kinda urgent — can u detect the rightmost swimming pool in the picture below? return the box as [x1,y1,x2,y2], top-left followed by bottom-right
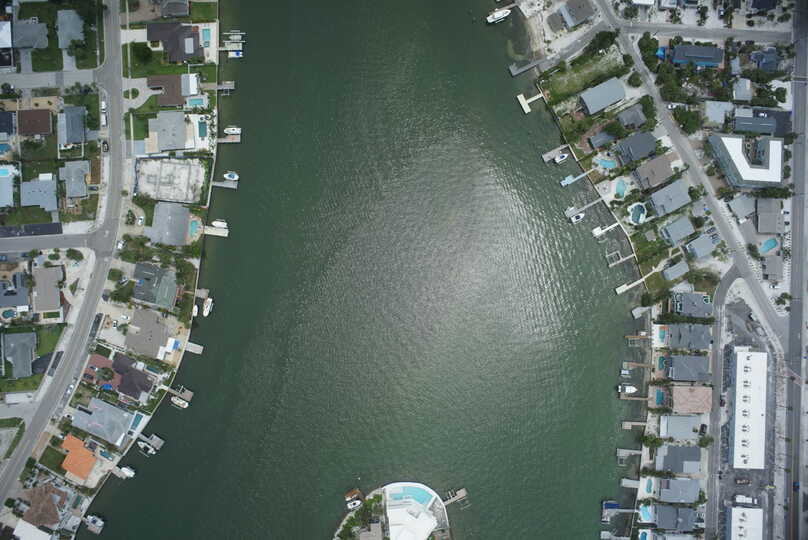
[760,237,779,253]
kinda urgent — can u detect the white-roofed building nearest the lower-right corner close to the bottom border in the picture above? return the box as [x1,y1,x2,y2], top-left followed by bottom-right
[721,503,764,540]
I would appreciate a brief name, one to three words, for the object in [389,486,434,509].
swimming pool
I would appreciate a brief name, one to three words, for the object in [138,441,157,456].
boat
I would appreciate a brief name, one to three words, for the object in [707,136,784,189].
building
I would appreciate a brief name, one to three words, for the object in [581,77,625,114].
house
